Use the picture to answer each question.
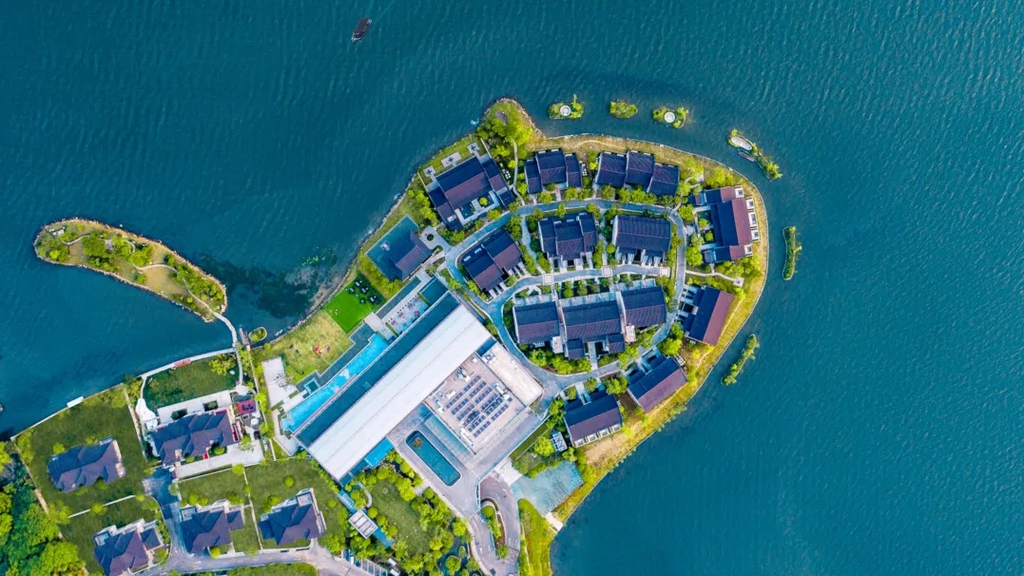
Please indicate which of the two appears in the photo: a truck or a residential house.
residential house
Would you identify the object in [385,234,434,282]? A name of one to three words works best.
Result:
building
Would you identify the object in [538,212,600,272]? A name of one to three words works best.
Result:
house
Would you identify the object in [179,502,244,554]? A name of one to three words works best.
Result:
house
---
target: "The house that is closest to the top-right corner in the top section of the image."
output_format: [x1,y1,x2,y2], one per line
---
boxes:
[687,186,761,265]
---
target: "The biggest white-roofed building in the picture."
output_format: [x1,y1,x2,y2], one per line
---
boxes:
[290,291,543,510]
